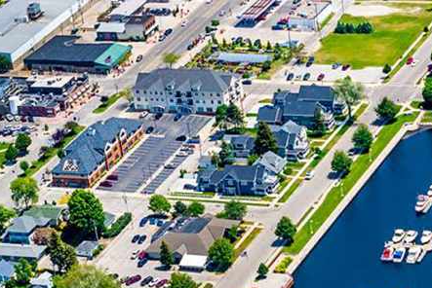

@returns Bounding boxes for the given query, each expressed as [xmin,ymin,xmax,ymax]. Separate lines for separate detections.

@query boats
[420,228,432,245]
[392,227,407,243]
[406,228,420,245]
[413,195,429,214]
[391,245,407,265]
[379,244,394,263]
[403,243,423,266]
